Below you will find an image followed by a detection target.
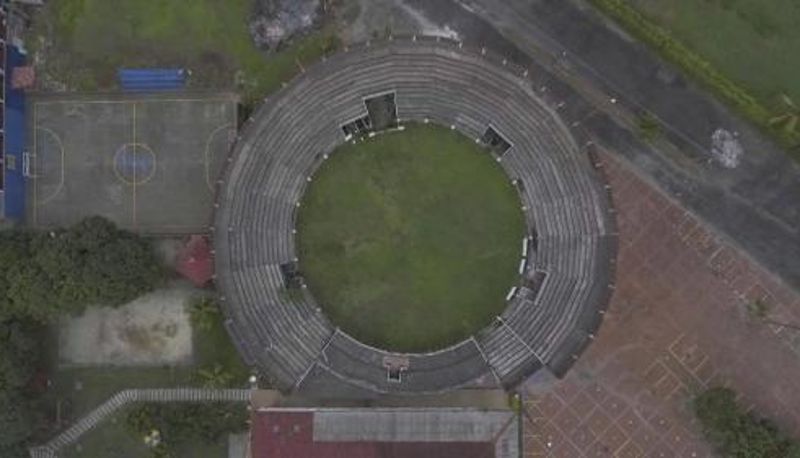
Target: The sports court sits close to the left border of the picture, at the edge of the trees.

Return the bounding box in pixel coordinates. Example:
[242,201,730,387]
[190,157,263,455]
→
[24,95,239,238]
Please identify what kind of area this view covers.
sports ground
